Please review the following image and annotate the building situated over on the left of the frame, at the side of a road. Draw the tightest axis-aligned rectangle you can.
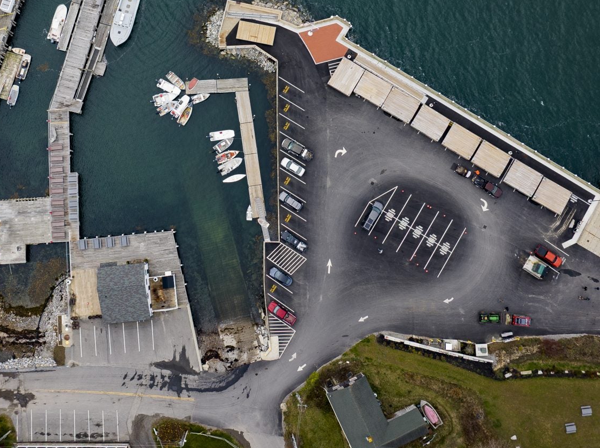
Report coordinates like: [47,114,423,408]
[96,261,153,323]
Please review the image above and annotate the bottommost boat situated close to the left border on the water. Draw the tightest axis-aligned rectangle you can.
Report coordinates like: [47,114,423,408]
[6,84,19,109]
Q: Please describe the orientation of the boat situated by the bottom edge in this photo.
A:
diagonally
